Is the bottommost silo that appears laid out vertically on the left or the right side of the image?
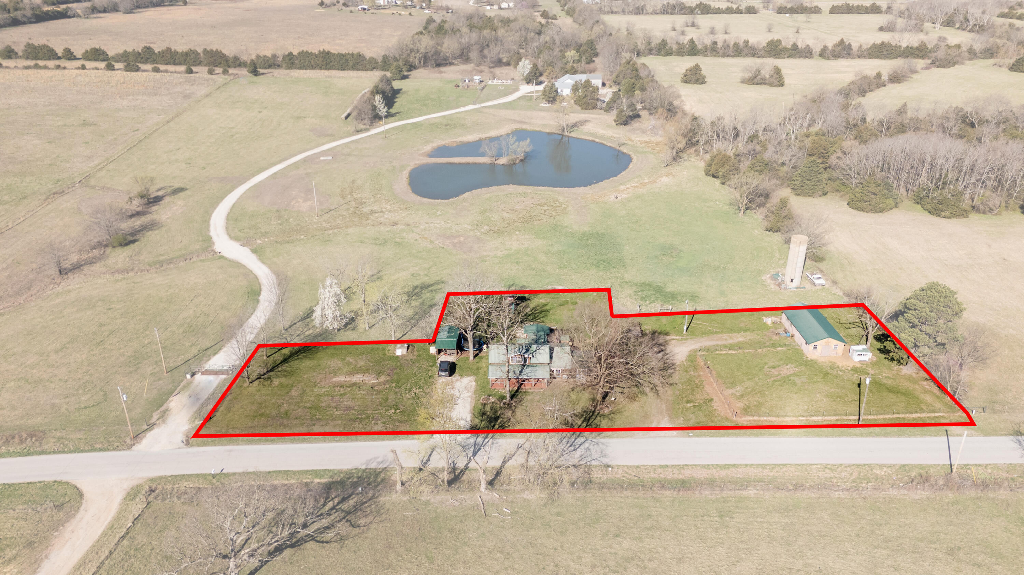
right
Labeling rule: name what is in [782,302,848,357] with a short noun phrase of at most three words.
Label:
barn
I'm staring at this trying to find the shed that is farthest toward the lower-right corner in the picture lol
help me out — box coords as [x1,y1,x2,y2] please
[850,344,871,361]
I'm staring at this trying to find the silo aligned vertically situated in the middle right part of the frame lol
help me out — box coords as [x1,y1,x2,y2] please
[784,234,807,285]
